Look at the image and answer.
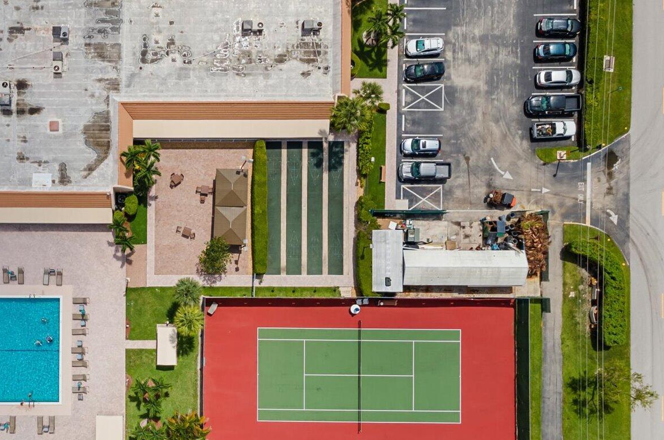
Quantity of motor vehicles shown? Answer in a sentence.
There are 9 motor vehicles in the image.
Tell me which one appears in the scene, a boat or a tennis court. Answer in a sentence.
Of the two, only a tennis court appears.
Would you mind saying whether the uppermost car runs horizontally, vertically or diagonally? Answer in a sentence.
In this picture, the uppermost car is oriented horizontally.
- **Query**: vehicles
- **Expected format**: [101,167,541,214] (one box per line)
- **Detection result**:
[398,136,441,157]
[402,37,444,59]
[532,41,575,63]
[534,17,578,39]
[396,160,452,181]
[528,119,577,140]
[401,61,445,82]
[523,94,583,116]
[534,68,578,89]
